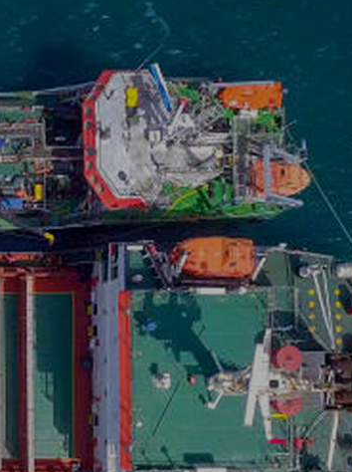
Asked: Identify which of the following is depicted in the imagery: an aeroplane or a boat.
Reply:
boat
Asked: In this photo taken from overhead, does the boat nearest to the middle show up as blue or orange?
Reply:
orange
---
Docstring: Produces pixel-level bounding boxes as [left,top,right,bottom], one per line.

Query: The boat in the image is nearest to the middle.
[166,238,252,278]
